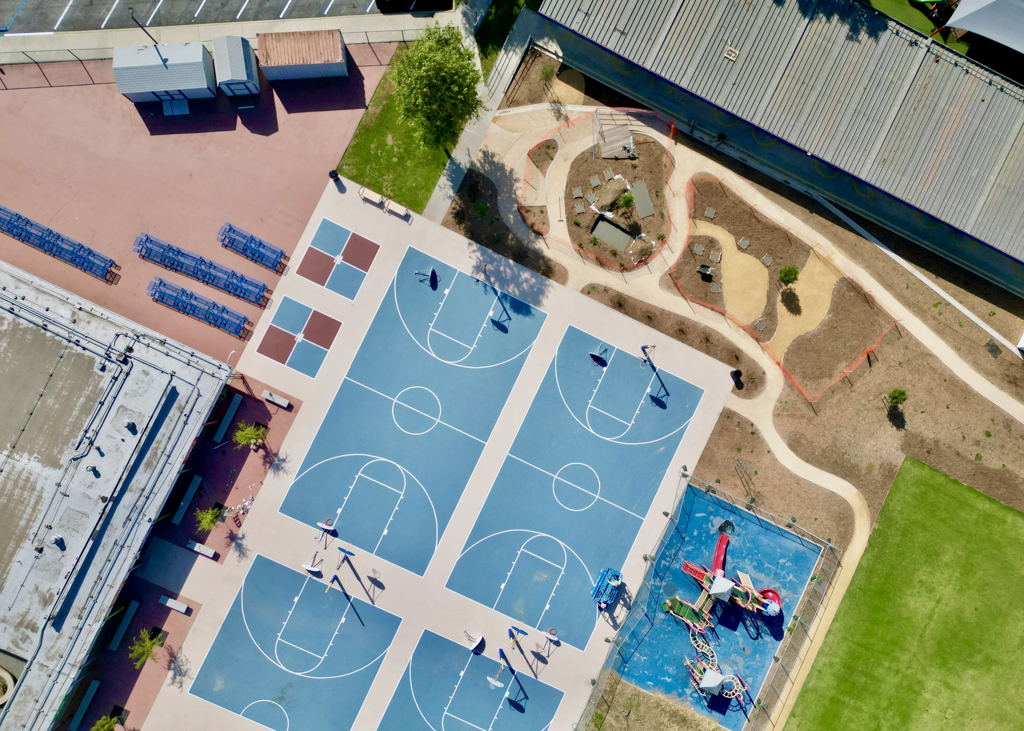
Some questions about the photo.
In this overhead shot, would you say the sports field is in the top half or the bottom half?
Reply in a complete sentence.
The sports field is in the bottom half of the image.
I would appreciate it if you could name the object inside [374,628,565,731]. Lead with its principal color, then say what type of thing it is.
blue basketball court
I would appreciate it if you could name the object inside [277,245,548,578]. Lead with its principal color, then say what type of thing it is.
blue basketball court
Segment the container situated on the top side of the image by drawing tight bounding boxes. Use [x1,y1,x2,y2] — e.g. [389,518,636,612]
[257,28,349,80]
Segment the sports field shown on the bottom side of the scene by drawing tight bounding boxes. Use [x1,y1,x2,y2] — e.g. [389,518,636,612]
[784,456,1024,731]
